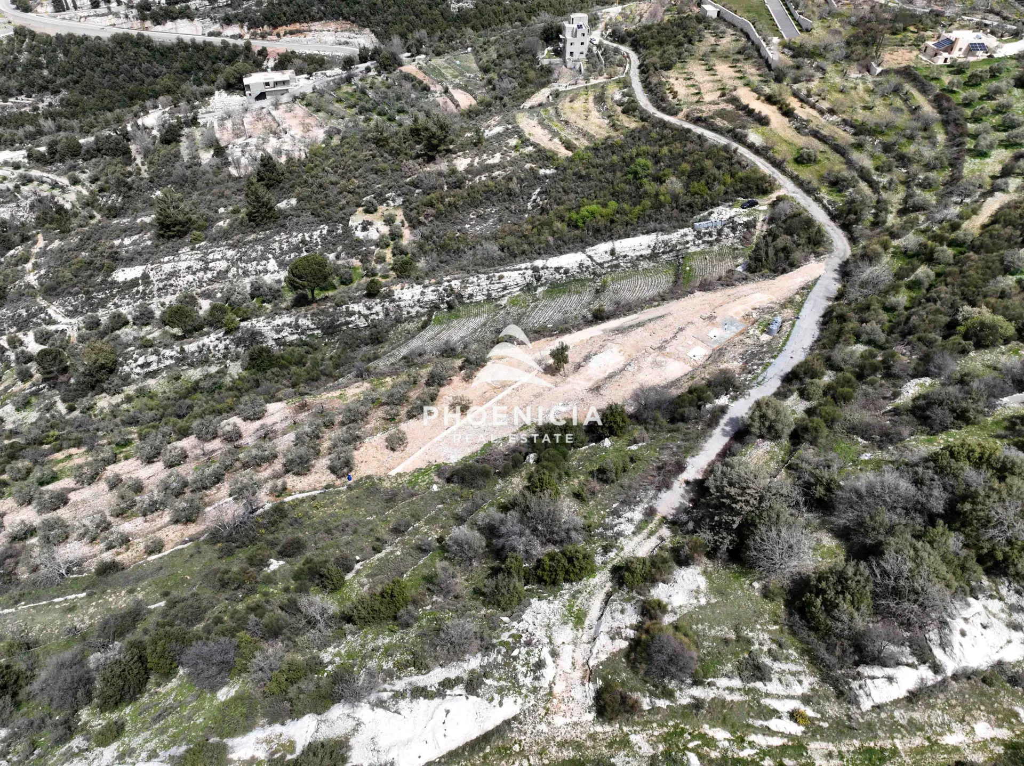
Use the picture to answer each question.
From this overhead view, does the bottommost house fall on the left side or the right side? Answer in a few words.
left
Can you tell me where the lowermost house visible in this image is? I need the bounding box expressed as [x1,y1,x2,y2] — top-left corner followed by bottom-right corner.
[242,67,312,101]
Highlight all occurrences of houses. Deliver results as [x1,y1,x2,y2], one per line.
[242,67,312,101]
[561,10,591,60]
[914,27,994,68]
